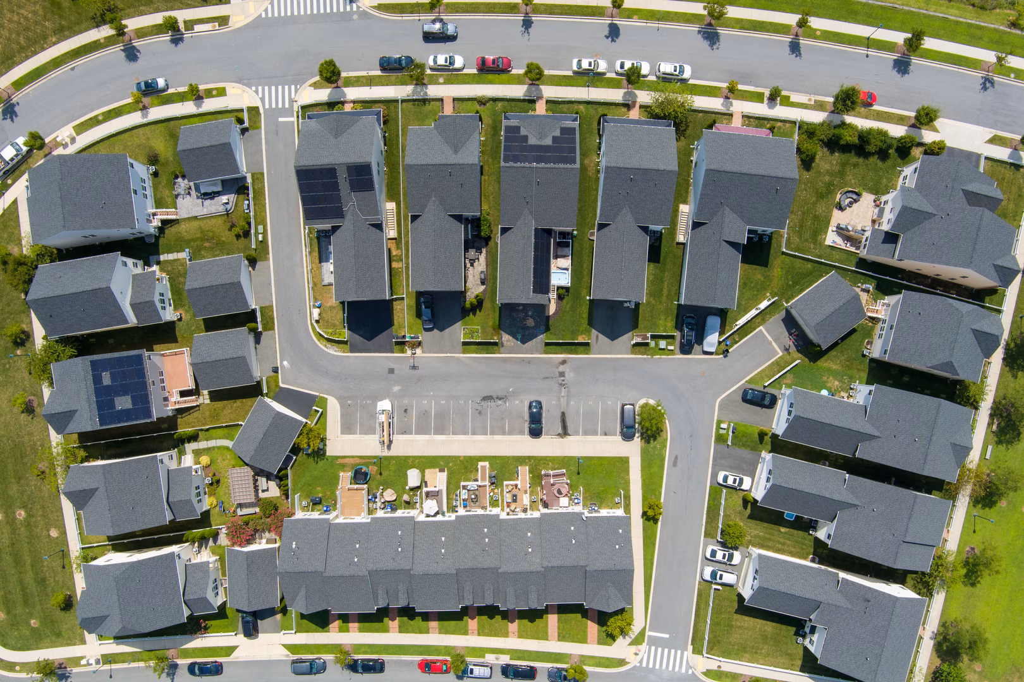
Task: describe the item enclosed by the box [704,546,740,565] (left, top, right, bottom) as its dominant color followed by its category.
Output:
white car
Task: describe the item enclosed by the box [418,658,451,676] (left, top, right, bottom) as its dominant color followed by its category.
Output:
red car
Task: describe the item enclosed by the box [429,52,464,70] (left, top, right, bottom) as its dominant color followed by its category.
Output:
white car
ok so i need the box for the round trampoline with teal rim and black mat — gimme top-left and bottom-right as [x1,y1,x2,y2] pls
[353,466,370,483]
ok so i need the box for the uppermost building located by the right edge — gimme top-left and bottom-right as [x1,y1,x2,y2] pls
[849,155,1024,286]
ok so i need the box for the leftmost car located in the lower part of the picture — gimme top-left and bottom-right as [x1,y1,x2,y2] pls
[189,659,224,677]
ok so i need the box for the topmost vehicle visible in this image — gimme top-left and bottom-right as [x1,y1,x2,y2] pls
[422,20,458,40]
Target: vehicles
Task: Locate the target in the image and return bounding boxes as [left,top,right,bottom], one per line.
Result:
[476,54,512,72]
[240,611,259,642]
[679,315,698,351]
[422,20,458,40]
[620,402,637,440]
[704,546,740,565]
[418,658,451,676]
[459,661,495,680]
[700,565,738,586]
[740,389,776,406]
[134,76,171,95]
[572,57,607,75]
[615,59,649,77]
[855,88,880,107]
[0,137,35,175]
[350,657,386,676]
[716,471,751,490]
[291,657,327,676]
[527,400,544,436]
[544,665,571,682]
[376,395,394,439]
[656,62,691,80]
[429,52,464,70]
[189,659,224,677]
[379,53,414,71]
[419,294,436,330]
[501,662,536,681]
